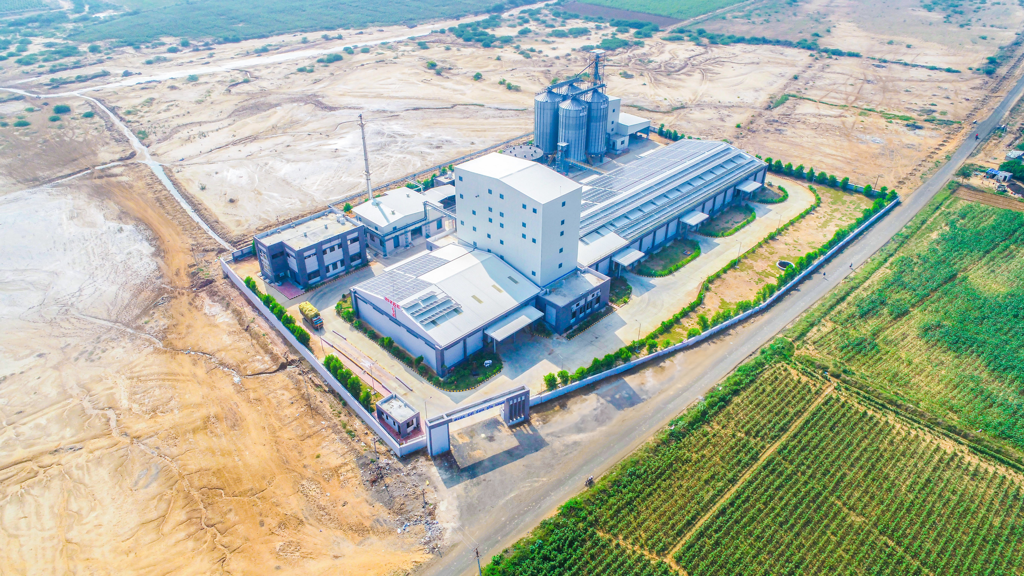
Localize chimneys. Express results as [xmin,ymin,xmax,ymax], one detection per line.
[356,110,374,200]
